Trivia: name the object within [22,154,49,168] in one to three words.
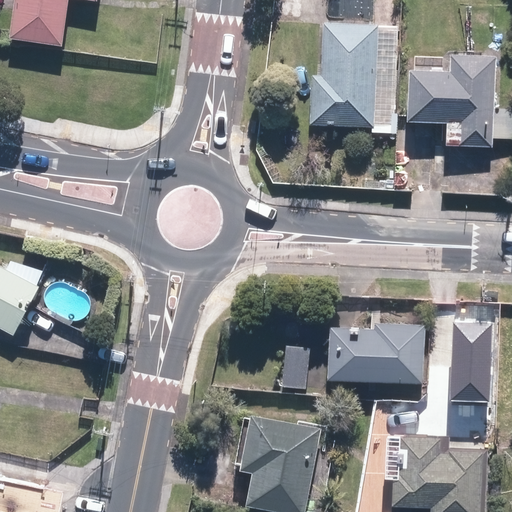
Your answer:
vehicle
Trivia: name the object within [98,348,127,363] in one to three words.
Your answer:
car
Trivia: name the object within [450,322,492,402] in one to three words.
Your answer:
house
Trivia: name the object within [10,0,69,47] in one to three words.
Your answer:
house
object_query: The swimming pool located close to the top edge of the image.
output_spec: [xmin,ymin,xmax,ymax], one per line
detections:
[328,0,374,20]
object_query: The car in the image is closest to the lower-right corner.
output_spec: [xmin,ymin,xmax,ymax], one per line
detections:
[388,414,420,429]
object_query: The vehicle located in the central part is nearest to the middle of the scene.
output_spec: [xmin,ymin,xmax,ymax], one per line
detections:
[244,200,277,222]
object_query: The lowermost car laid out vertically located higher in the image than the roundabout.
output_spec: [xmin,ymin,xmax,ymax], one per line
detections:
[213,112,228,145]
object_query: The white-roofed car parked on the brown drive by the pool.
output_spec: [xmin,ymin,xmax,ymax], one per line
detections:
[26,311,54,332]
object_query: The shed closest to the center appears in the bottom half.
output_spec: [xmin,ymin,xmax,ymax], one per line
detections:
[280,346,310,390]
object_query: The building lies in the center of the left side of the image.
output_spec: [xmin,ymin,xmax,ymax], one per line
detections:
[0,261,42,336]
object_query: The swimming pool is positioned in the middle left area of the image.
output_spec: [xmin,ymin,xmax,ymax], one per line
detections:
[44,282,90,322]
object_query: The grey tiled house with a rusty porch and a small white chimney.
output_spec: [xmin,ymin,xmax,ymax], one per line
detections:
[406,54,496,148]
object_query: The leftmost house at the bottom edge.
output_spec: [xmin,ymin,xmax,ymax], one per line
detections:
[234,416,326,512]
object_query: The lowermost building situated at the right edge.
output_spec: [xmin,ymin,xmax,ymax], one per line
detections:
[392,436,488,512]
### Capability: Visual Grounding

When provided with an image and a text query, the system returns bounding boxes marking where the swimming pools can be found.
[328,0,374,20]
[44,282,90,322]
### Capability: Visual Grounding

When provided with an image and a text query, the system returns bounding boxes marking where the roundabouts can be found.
[157,184,224,251]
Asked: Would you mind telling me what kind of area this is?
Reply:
residential area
